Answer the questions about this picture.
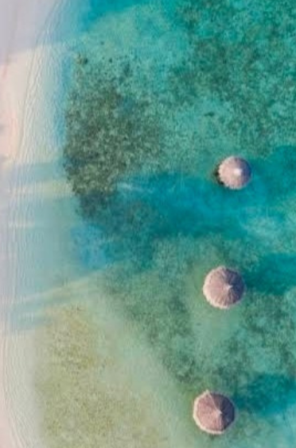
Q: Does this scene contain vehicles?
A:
No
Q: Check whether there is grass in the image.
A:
No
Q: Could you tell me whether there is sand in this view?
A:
Yes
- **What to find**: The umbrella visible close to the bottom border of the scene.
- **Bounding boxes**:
[191,391,233,432]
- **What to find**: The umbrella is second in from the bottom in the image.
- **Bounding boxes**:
[203,266,244,307]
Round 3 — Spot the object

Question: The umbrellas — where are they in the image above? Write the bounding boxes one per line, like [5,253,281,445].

[203,266,244,307]
[191,391,233,432]
[214,155,249,190]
